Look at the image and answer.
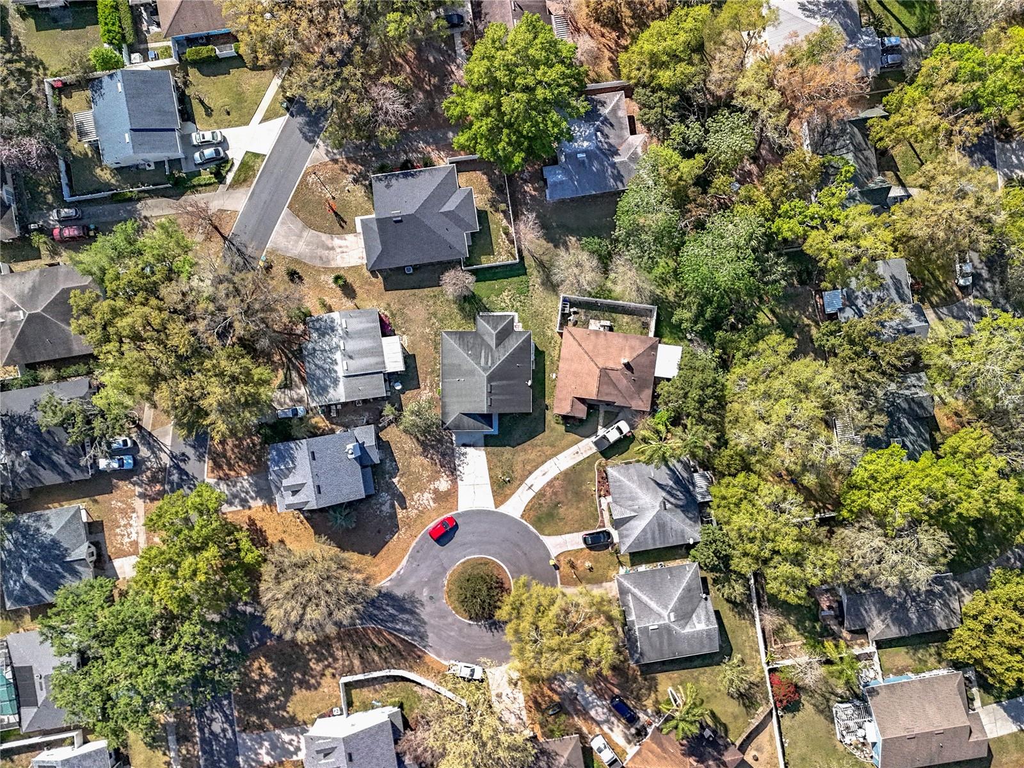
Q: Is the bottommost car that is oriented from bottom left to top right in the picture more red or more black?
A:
red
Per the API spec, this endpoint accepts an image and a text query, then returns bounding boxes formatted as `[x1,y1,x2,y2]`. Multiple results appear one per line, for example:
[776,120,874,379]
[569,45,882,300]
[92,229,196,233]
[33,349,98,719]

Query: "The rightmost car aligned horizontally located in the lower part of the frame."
[582,530,613,545]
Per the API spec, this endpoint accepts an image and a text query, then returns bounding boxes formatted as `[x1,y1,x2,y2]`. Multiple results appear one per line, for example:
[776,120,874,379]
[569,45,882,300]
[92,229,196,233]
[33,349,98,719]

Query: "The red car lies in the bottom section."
[428,516,458,540]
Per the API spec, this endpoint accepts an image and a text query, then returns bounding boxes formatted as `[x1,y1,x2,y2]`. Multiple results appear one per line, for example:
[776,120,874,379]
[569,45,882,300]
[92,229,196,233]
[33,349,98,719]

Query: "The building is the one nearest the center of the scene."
[441,314,533,431]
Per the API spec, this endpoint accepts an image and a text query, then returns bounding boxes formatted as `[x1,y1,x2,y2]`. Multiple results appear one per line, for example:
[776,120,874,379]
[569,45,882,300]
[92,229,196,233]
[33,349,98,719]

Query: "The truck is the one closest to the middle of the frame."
[590,419,633,453]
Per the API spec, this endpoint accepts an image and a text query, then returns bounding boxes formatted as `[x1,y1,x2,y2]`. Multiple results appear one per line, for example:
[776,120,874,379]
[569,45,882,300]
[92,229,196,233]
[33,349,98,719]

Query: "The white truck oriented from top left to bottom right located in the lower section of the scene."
[587,731,622,768]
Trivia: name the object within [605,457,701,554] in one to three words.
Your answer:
house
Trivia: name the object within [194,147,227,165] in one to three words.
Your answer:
car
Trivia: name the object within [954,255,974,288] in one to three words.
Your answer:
vehicle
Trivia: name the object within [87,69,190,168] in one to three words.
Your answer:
house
